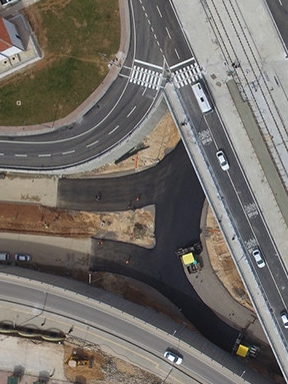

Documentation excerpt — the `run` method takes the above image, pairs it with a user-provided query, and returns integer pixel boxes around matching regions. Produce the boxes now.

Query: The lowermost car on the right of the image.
[163,348,184,363]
